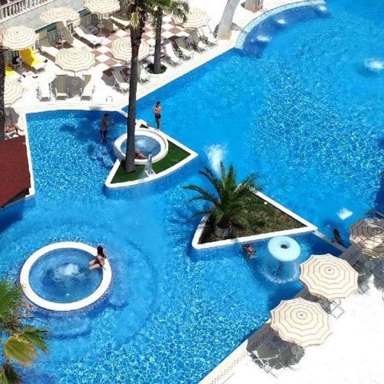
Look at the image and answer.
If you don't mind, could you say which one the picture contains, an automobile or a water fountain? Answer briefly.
water fountain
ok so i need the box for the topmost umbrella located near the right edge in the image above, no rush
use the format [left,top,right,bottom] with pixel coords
[341,217,384,278]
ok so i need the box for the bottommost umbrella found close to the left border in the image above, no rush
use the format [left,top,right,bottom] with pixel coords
[2,83,31,129]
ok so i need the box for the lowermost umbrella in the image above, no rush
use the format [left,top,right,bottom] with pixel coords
[273,298,337,354]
